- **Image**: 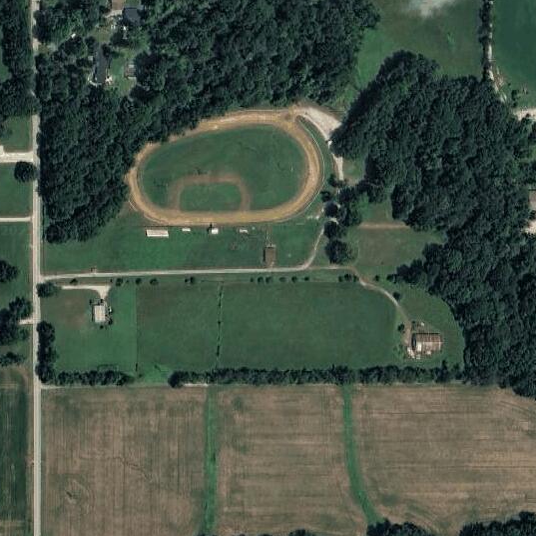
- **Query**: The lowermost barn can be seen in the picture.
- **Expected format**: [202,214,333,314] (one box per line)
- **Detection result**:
[412,334,441,353]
